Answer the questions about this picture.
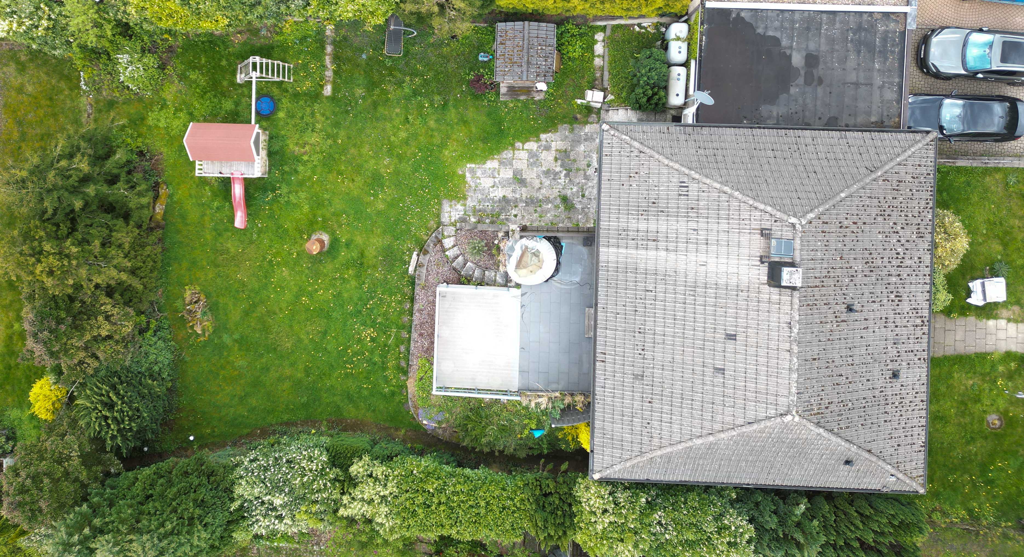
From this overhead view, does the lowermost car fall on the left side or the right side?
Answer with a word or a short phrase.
right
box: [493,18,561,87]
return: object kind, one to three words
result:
shed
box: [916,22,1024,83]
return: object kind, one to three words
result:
car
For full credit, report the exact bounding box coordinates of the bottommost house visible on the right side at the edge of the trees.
[590,122,937,493]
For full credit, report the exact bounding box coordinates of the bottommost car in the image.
[909,91,1024,147]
